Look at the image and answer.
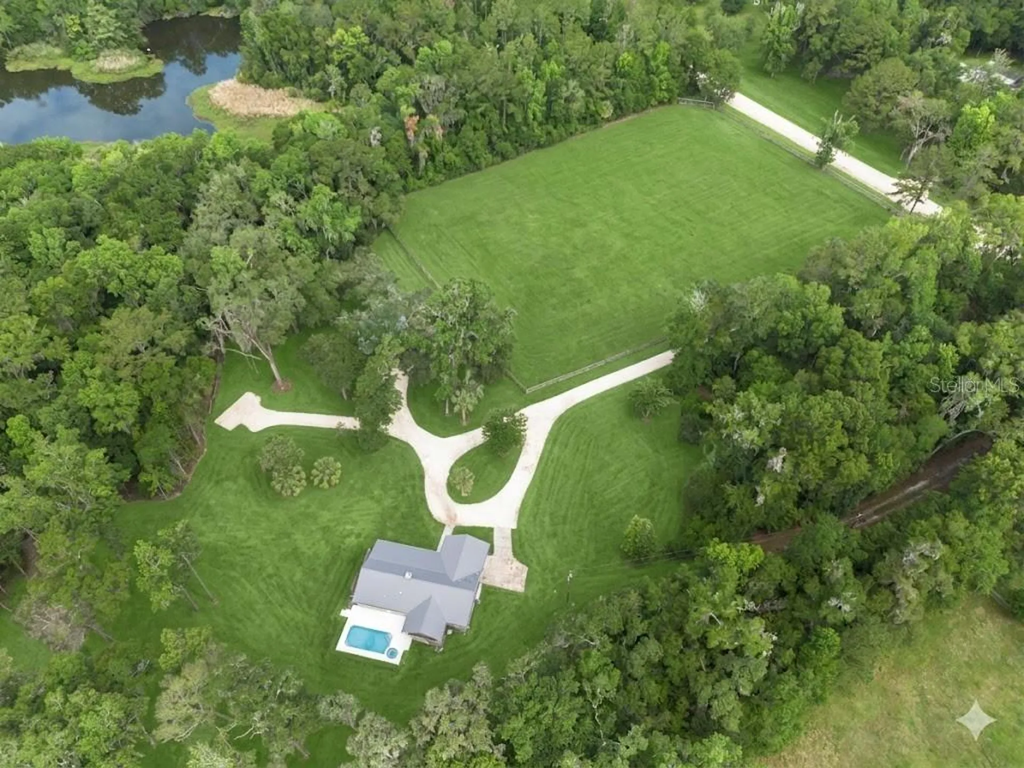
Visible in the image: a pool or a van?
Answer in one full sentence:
This aerial view contains a pool.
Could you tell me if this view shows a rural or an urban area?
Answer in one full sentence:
It looks rural.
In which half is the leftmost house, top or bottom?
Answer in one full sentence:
Seen from above, the leftmost house lies in the bottom half of the view.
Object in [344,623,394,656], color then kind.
blue swimming pool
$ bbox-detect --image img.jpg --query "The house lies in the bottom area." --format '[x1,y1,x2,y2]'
[352,535,490,647]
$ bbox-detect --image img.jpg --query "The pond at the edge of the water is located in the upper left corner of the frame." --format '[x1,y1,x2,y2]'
[0,6,299,147]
